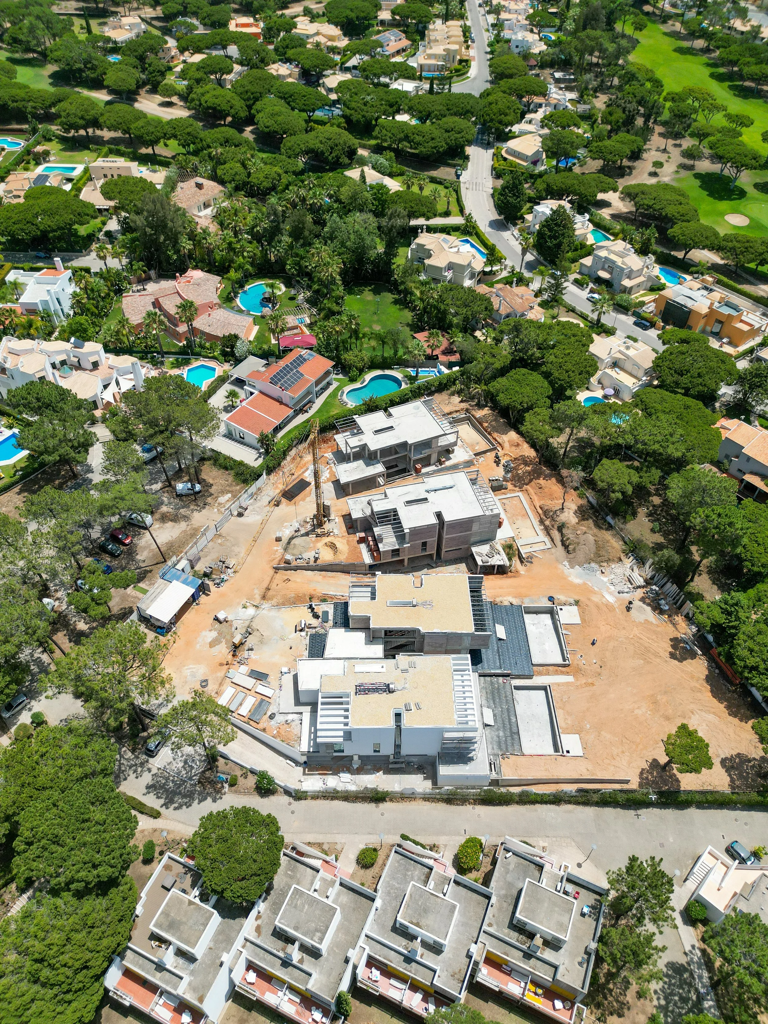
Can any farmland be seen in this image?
No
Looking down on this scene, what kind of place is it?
residential area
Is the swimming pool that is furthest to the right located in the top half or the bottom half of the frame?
top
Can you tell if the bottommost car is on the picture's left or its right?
right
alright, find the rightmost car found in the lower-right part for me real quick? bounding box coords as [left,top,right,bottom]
[724,832,761,862]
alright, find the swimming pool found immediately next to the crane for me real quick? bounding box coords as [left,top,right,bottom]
[341,371,407,407]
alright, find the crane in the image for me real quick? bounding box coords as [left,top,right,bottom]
[233,413,336,574]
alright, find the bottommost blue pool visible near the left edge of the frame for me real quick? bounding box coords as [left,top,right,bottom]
[0,430,24,463]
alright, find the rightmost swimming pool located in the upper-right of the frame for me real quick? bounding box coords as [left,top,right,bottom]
[656,265,687,285]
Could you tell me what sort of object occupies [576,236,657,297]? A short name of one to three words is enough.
house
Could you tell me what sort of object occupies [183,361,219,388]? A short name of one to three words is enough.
swimming pool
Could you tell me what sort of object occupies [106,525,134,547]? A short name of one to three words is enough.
car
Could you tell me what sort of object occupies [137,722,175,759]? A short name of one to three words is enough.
car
